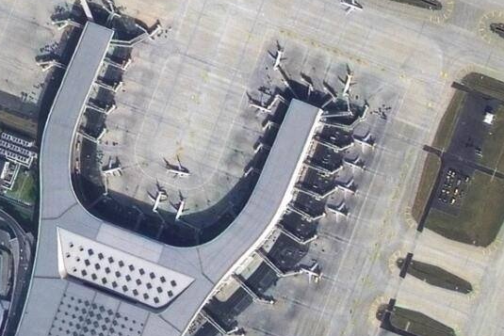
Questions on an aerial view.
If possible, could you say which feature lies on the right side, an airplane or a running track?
airplane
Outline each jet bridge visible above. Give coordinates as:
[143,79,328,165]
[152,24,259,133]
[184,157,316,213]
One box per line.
[322,106,368,129]
[301,77,312,103]
[87,105,117,115]
[256,251,302,275]
[244,167,259,176]
[95,176,109,214]
[288,205,327,221]
[315,140,355,153]
[269,94,289,111]
[276,71,298,97]
[297,184,337,199]
[304,163,344,177]
[37,62,65,72]
[51,21,82,31]
[113,23,164,47]
[321,95,352,118]
[201,312,245,336]
[278,226,319,244]
[320,88,339,109]
[106,59,132,71]
[100,0,122,24]
[97,81,123,92]
[254,144,271,153]
[233,276,275,303]
[79,131,108,143]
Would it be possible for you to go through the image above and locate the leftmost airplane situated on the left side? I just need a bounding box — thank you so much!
[103,158,123,179]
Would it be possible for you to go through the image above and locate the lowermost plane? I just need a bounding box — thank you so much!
[302,263,324,284]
